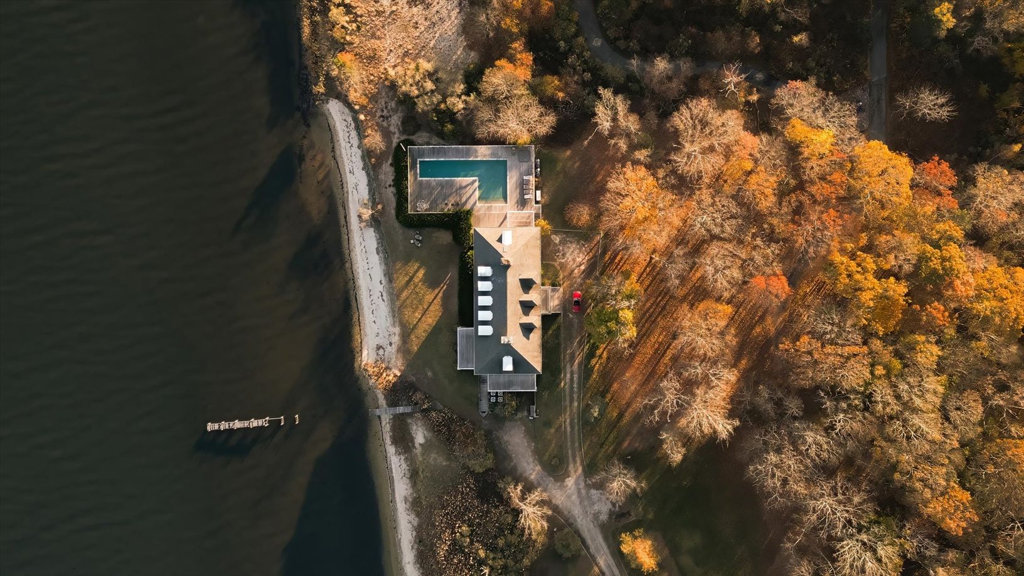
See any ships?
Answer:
No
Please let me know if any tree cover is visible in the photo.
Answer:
Yes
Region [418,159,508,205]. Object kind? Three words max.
swimming pool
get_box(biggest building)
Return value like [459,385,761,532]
[457,226,562,392]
